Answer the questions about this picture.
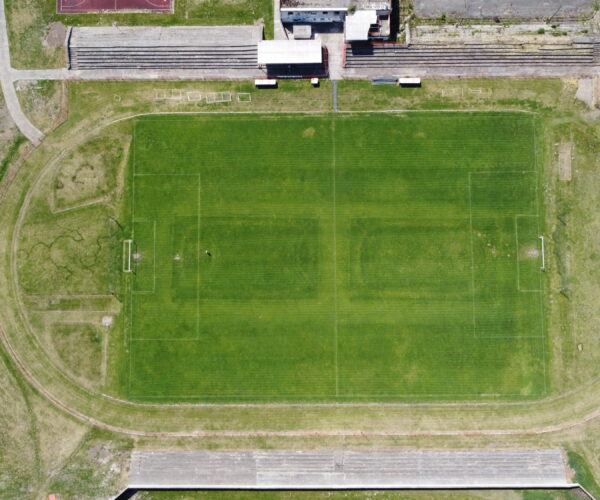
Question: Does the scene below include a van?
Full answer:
No, the photo shows no van.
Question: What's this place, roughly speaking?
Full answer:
This image shows a sports ground.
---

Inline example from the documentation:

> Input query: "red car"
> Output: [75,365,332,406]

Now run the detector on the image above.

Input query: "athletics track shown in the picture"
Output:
[0,82,600,436]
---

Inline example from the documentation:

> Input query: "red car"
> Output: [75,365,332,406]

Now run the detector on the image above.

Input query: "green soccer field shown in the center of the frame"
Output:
[126,111,550,404]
